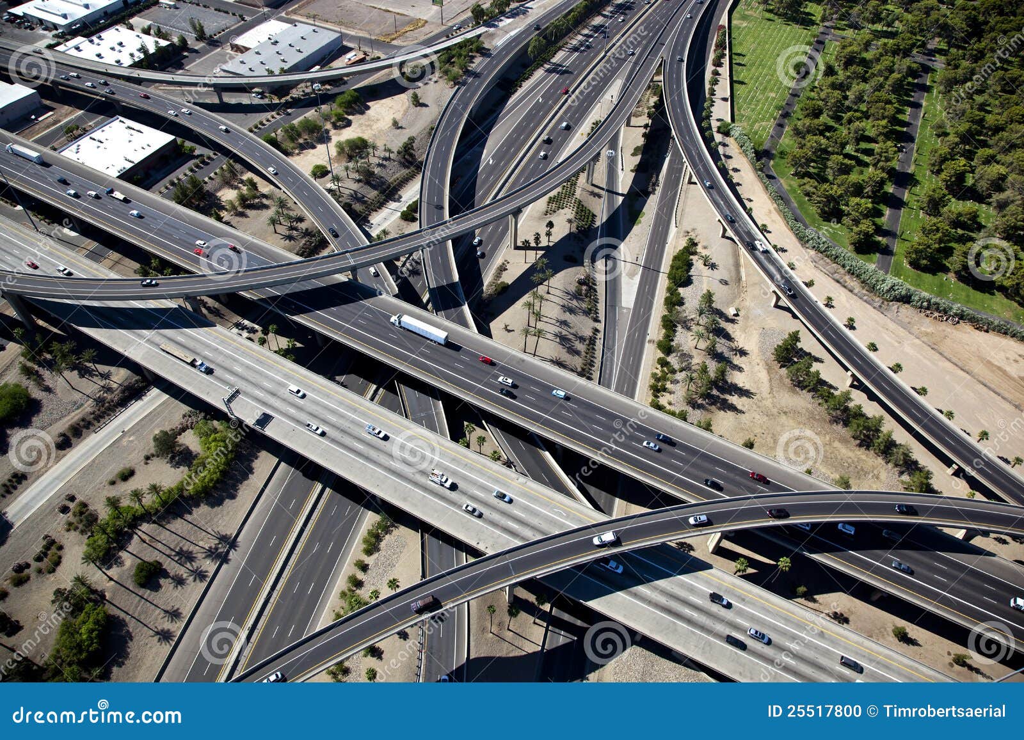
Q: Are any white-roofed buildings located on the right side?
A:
No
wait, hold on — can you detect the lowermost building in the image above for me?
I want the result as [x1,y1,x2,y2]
[59,115,178,185]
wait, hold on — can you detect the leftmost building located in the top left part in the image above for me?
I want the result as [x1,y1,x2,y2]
[0,81,44,127]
